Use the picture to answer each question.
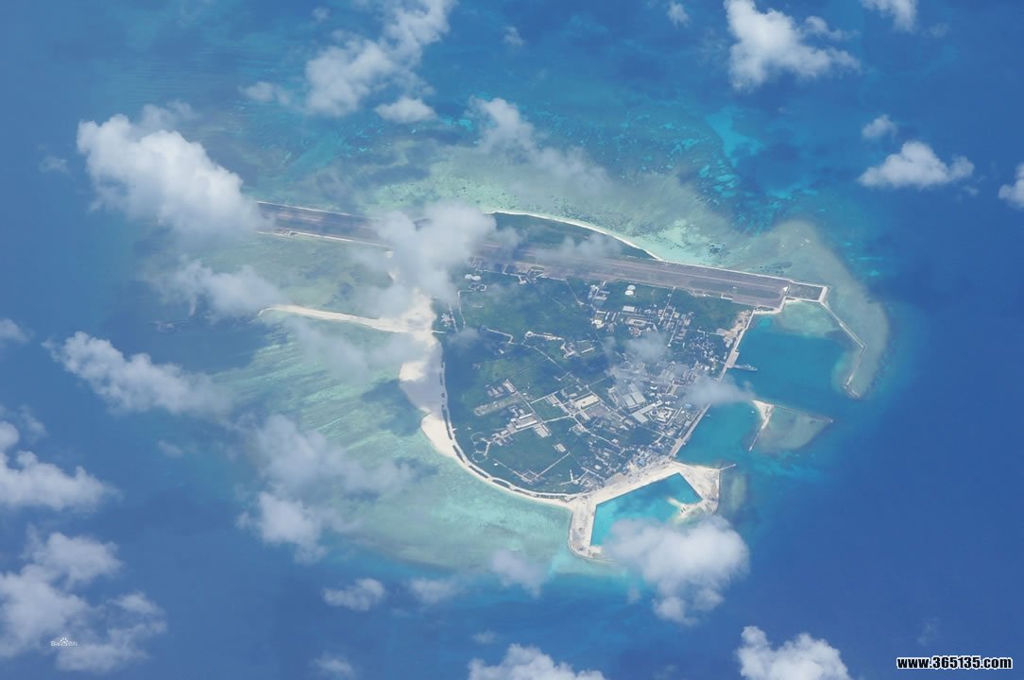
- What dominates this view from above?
water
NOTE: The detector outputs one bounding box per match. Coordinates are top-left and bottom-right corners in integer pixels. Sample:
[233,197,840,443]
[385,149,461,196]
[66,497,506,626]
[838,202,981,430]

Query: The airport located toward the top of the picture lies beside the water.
[253,201,827,315]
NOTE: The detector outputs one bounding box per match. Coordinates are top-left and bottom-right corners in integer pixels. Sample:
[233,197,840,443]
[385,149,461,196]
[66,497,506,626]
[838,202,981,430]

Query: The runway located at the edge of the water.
[253,212,780,292]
